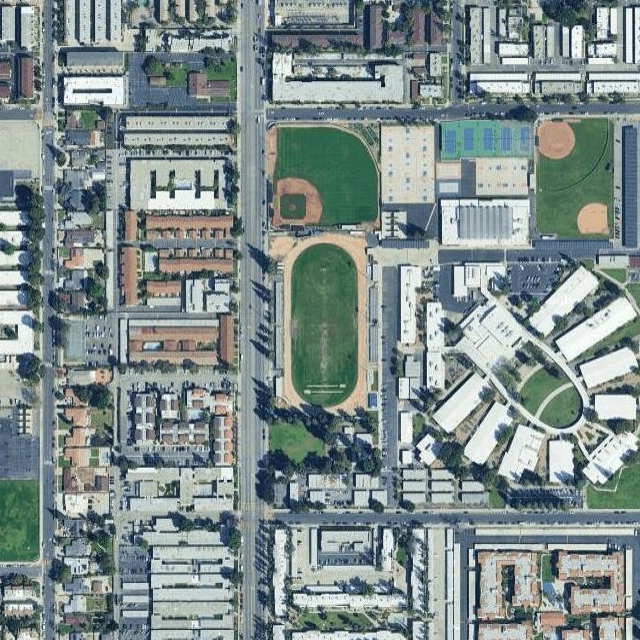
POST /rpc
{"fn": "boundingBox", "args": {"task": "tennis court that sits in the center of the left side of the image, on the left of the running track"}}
[62,318,85,363]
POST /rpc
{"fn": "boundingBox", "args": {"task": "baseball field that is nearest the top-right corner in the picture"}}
[536,119,615,239]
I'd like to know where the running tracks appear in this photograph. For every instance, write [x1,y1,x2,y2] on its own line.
[271,233,367,413]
